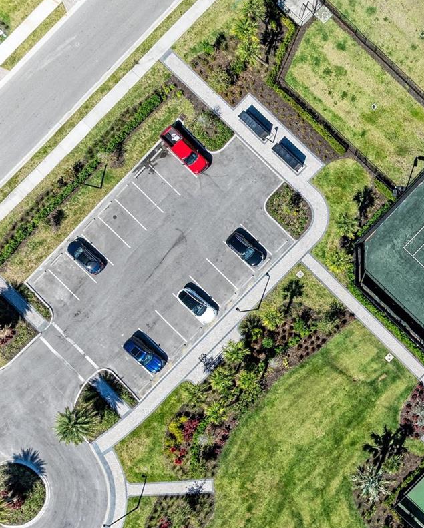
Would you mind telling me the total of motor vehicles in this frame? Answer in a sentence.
The count of motor vehicles comes to 5.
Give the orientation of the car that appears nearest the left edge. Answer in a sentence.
I'd say the car that appears nearest the left edge is aligned at an angle in the picture.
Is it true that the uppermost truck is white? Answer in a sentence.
No, the uppermost truck is actually red.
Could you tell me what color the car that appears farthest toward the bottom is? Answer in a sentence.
The color of the car that appears farthest toward the bottom is blue.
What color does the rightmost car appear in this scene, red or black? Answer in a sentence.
From above, the rightmost car appears black.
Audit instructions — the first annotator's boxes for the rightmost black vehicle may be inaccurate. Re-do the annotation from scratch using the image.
[227,229,265,266]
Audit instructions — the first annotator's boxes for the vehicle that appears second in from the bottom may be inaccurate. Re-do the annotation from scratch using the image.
[175,286,214,325]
